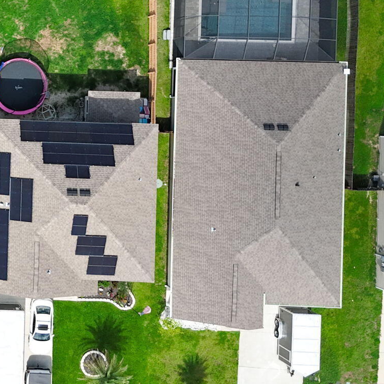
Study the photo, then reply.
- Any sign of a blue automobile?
No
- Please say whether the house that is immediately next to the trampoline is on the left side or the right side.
left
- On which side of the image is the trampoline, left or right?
left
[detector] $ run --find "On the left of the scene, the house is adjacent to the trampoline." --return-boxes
[0,91,159,301]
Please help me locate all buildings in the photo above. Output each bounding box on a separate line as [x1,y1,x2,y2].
[375,137,384,291]
[159,57,351,328]
[0,91,159,301]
